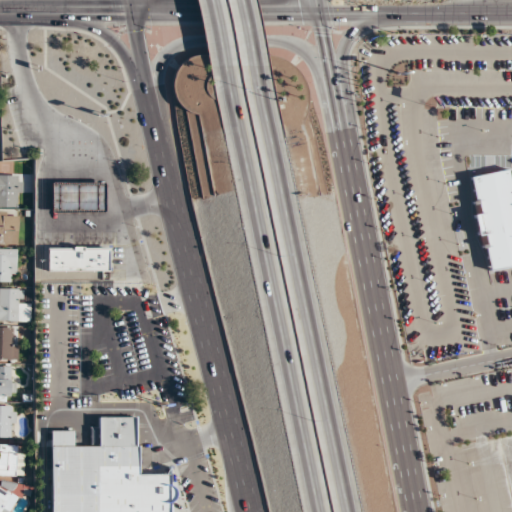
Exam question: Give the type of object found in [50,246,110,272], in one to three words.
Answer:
building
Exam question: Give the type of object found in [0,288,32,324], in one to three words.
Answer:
house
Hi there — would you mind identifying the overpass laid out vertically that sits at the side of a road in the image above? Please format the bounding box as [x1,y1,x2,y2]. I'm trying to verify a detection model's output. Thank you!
[198,0,361,512]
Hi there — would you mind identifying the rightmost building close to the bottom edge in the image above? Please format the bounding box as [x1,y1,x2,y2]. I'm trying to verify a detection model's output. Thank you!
[53,414,178,512]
